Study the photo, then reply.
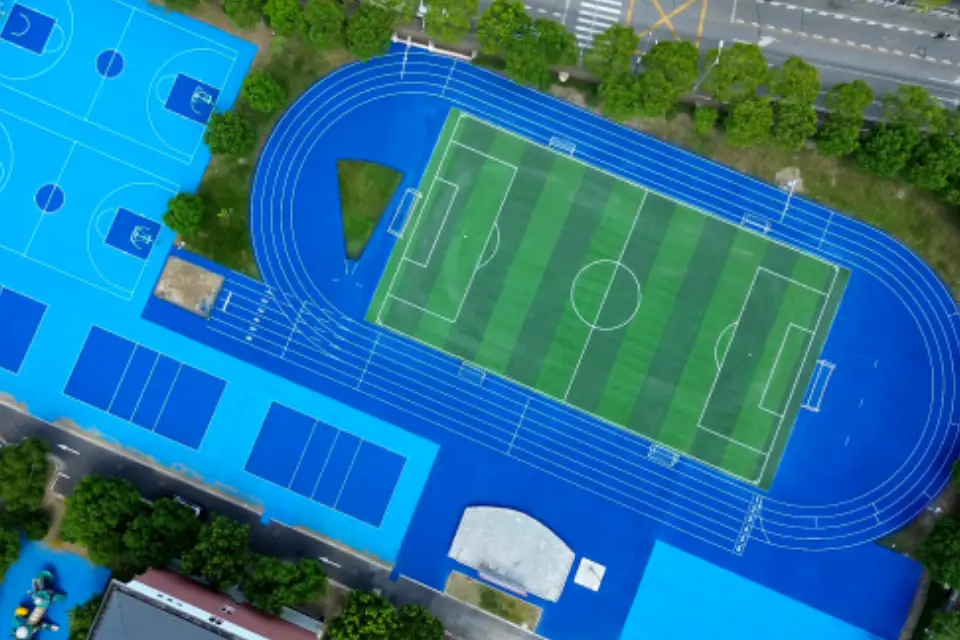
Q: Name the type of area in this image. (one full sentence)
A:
This looks like a sports ground.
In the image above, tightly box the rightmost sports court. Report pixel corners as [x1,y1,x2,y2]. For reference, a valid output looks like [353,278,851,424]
[620,541,881,640]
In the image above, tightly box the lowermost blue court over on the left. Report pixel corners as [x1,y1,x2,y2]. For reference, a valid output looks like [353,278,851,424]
[244,401,408,528]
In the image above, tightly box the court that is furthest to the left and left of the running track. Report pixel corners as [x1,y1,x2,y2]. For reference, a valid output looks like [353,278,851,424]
[0,286,50,374]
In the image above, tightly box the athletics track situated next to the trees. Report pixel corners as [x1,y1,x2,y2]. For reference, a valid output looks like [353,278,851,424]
[188,43,960,554]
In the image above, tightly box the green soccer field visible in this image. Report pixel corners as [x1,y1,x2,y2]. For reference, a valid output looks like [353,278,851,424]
[361,108,851,490]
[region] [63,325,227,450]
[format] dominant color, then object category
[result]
blue sports court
